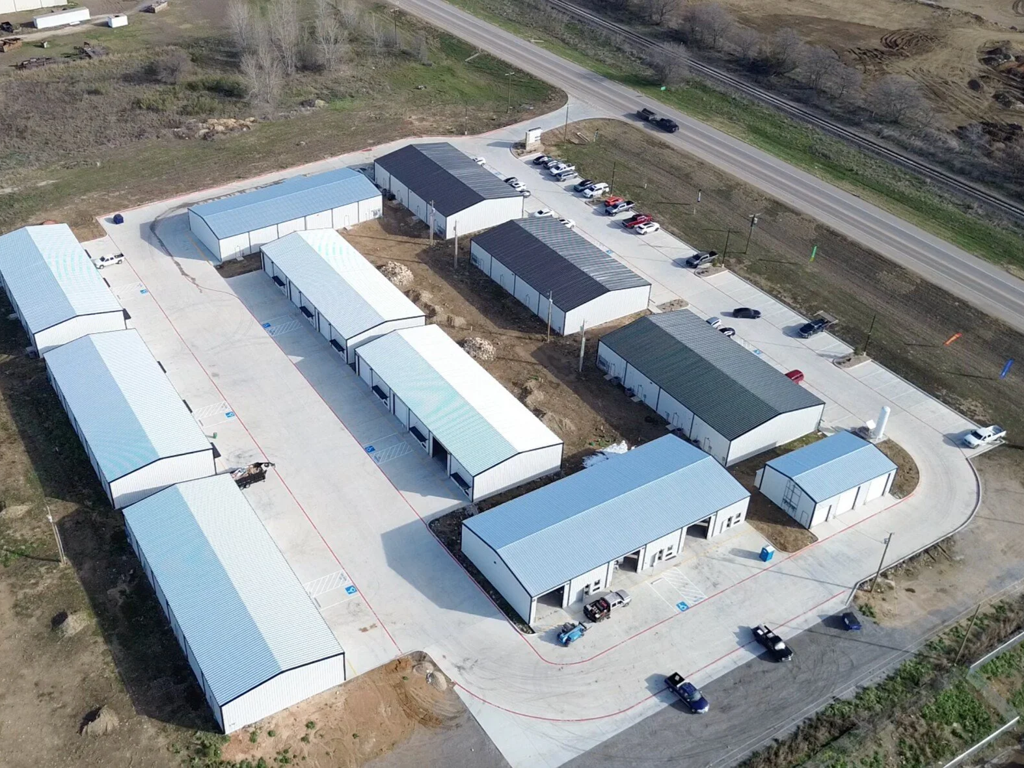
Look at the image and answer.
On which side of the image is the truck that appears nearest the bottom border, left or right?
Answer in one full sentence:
It is on the right.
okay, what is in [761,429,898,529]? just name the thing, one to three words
building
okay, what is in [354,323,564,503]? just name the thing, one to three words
building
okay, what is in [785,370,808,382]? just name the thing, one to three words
vehicle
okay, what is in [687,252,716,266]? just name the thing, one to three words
vehicle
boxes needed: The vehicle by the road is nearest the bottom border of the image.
[665,674,710,715]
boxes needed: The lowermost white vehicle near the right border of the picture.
[965,425,1001,445]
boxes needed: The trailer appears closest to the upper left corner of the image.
[31,4,90,27]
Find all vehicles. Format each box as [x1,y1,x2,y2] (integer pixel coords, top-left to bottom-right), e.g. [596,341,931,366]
[665,674,710,715]
[557,169,578,181]
[549,163,575,175]
[606,201,633,214]
[519,188,536,197]
[803,317,833,334]
[574,178,595,191]
[965,425,1001,445]
[721,326,740,336]
[533,208,555,217]
[687,252,716,266]
[582,593,630,619]
[560,216,577,226]
[635,222,658,234]
[503,176,522,185]
[583,182,610,196]
[510,180,529,190]
[532,154,552,166]
[785,370,808,382]
[473,156,490,164]
[654,120,679,130]
[603,195,624,206]
[555,618,595,648]
[705,316,726,327]
[733,306,760,320]
[751,626,796,664]
[94,253,126,269]
[622,215,650,228]
[543,158,563,170]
